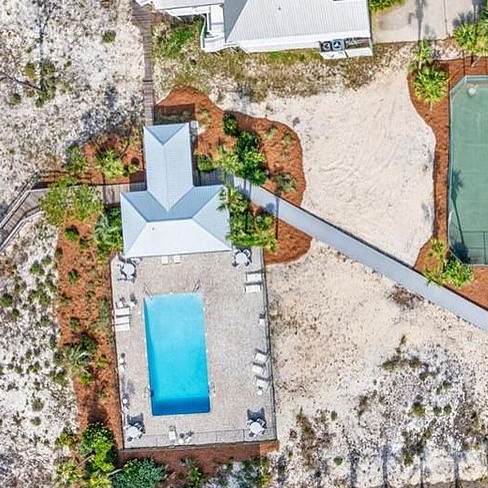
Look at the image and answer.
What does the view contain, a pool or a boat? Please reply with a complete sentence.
The one in the frame is a pool.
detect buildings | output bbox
[137,0,373,55]
[120,123,235,258]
